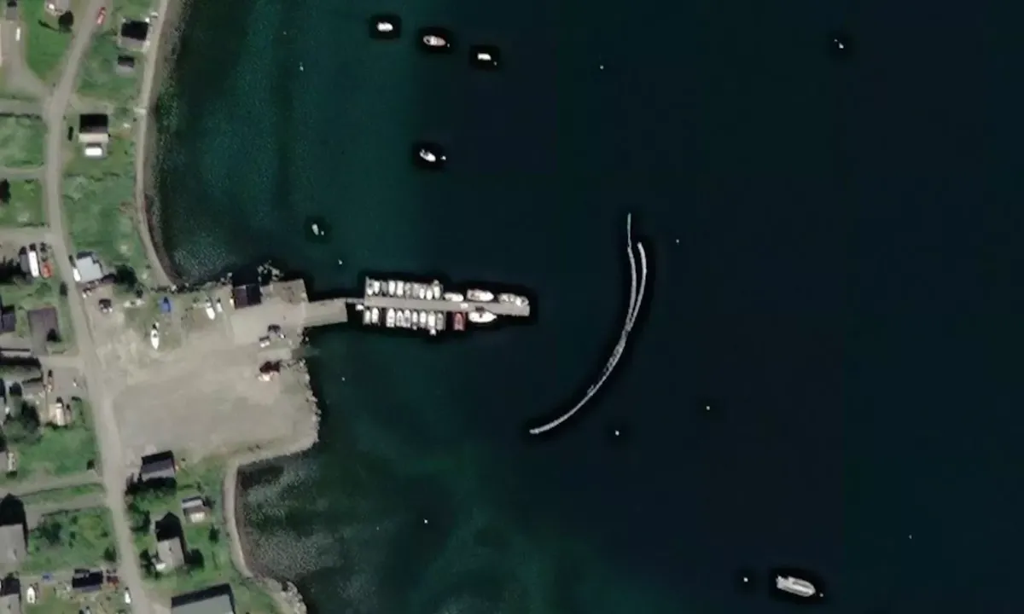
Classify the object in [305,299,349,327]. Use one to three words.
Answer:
pier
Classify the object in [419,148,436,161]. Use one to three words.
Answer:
boat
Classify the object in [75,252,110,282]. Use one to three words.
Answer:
building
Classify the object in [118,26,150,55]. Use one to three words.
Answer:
house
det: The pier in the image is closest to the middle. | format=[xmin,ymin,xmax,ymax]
[365,276,530,329]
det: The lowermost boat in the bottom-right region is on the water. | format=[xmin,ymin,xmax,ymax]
[774,575,815,596]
